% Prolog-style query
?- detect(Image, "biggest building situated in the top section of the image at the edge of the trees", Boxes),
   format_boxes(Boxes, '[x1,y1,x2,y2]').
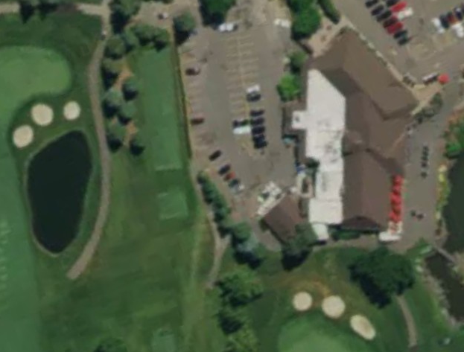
[293,27,420,240]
